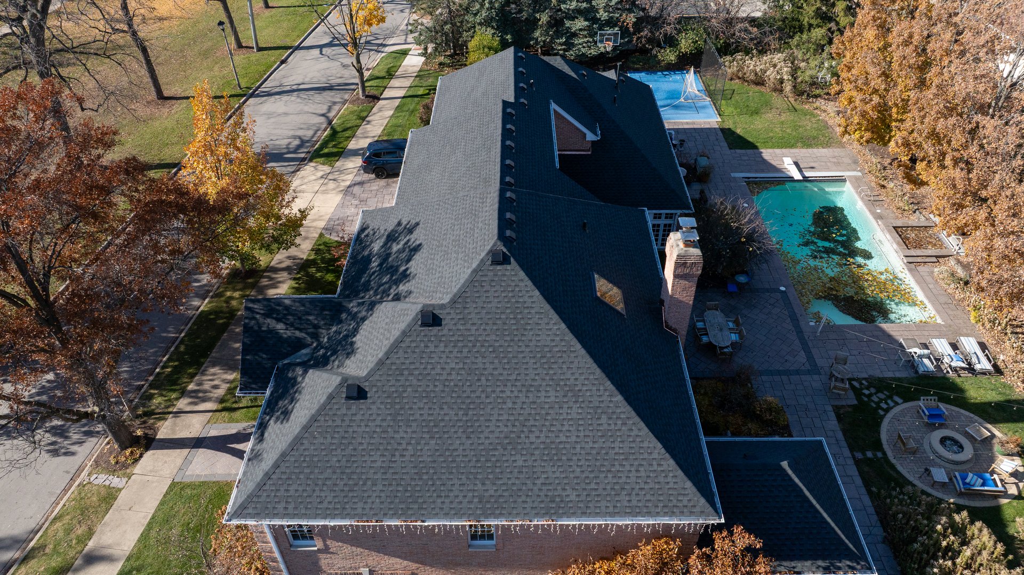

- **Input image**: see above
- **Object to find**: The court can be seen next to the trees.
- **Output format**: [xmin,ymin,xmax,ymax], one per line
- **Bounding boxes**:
[628,70,722,122]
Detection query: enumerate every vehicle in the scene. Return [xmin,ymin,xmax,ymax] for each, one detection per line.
[360,133,408,175]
